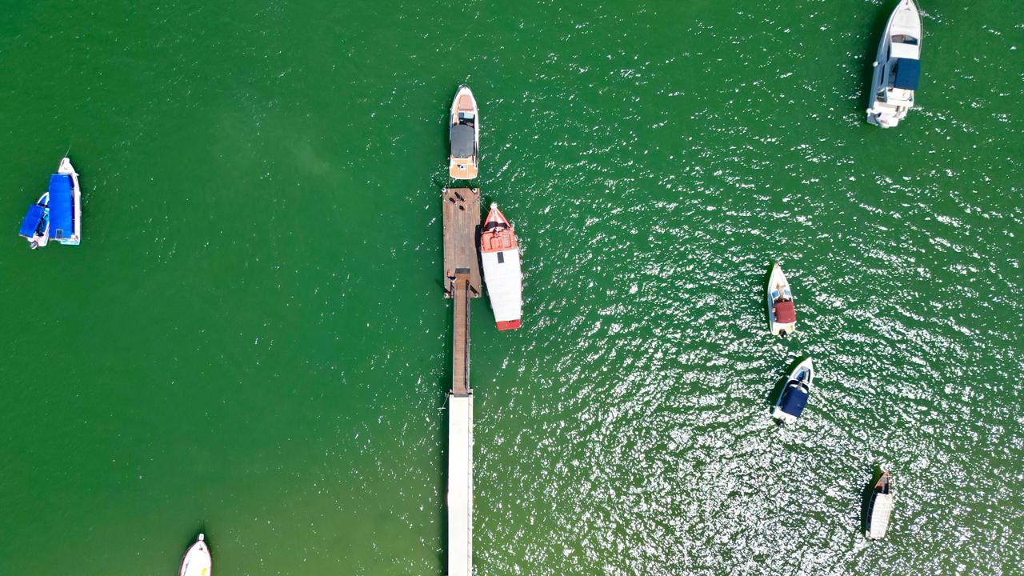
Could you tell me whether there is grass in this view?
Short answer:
No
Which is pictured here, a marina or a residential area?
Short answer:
marina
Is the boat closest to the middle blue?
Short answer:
No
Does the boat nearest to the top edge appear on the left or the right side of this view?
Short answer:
right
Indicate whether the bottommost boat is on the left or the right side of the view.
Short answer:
left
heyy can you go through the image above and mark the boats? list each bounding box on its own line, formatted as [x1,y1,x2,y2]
[774,356,814,424]
[21,191,50,250]
[479,203,522,331]
[865,468,893,542]
[446,83,481,179]
[179,536,213,576]
[49,156,84,247]
[865,0,924,129]
[767,264,796,338]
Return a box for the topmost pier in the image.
[442,187,482,299]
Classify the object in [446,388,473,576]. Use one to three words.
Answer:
pier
